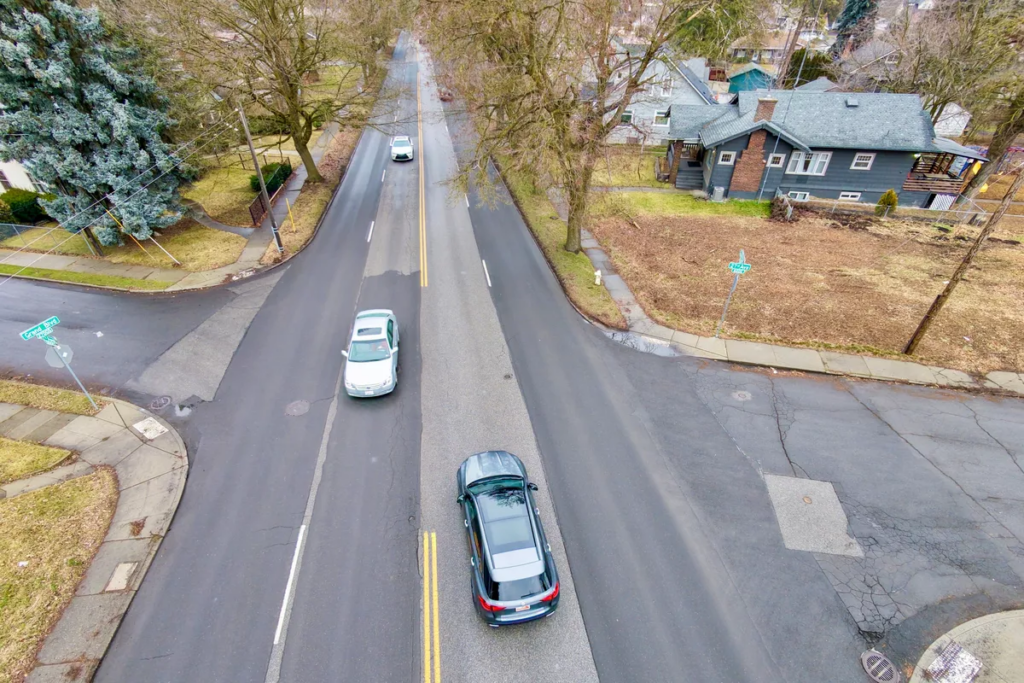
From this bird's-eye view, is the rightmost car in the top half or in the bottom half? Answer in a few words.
bottom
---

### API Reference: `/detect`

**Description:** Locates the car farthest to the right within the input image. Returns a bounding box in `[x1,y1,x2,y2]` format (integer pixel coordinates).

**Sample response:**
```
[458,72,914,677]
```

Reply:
[458,451,559,628]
